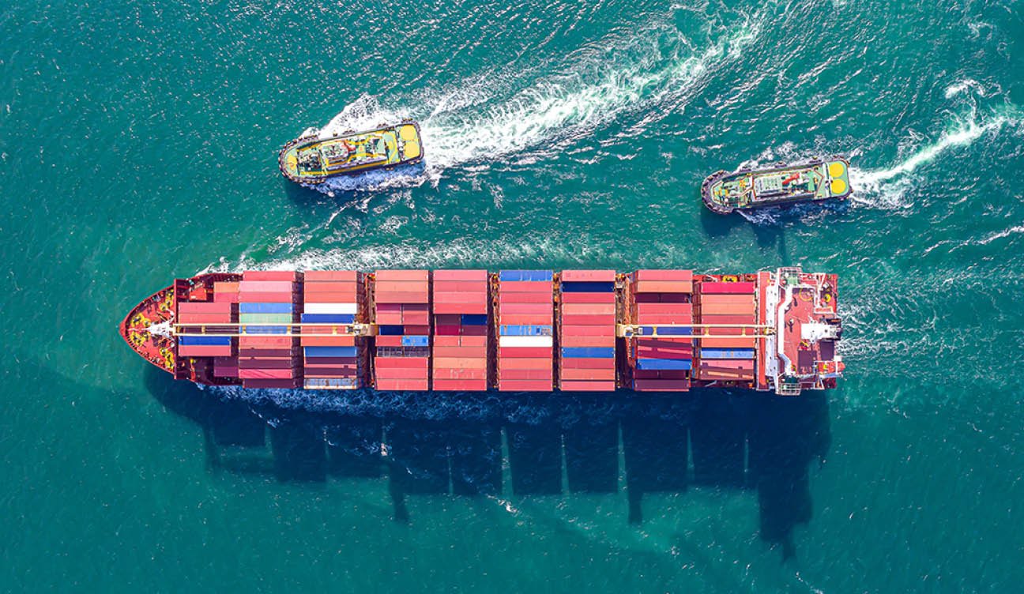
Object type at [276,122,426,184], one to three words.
boat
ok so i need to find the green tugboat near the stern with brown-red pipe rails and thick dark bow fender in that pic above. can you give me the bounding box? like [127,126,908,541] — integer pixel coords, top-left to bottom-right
[701,157,849,214]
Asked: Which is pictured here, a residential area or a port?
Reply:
port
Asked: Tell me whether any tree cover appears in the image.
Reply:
No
